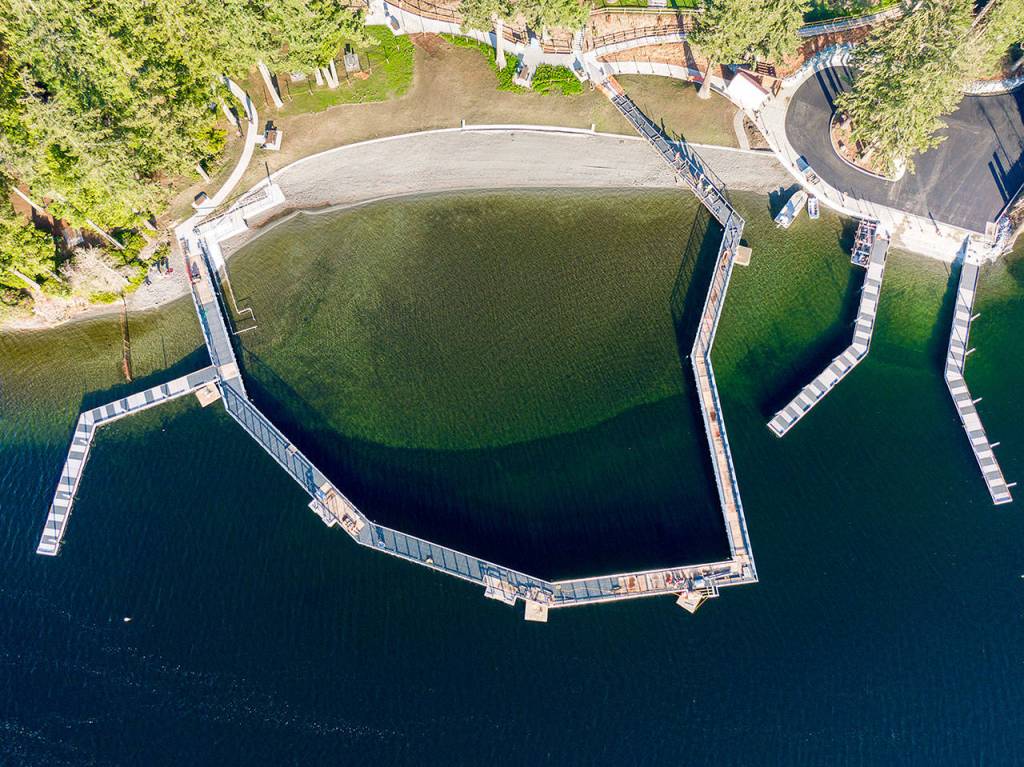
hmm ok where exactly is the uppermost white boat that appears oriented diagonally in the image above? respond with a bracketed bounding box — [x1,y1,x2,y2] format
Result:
[774,188,808,229]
